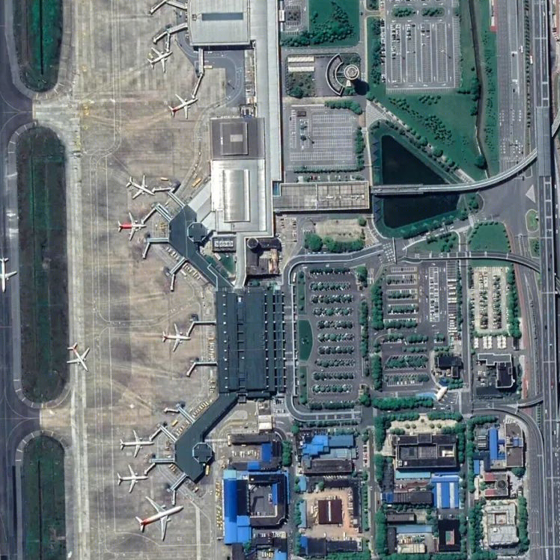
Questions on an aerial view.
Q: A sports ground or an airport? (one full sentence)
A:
The picture captures an airport.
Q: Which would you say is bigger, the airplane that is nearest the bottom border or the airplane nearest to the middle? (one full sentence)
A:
The airplane that is nearest the bottom border covers a greater area than the airplane nearest to the middle.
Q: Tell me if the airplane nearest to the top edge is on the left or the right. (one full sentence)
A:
The airplane nearest to the top edge appears in the left half of the scene.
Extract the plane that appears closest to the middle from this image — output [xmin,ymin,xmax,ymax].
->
[162,324,190,351]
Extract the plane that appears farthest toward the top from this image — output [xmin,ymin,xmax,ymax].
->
[147,47,172,69]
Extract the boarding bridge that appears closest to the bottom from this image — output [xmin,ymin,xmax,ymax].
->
[170,476,187,507]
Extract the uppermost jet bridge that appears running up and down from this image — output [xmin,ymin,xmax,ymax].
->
[190,47,203,99]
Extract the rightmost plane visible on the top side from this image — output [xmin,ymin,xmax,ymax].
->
[169,95,197,116]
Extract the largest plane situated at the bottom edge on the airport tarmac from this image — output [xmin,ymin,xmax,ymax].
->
[134,498,184,542]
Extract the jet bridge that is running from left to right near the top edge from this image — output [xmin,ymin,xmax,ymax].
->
[149,0,188,14]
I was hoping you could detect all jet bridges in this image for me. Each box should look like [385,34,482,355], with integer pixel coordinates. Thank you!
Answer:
[170,476,187,507]
[148,424,176,443]
[185,362,216,377]
[140,203,172,225]
[185,322,216,338]
[149,0,188,14]
[190,47,203,99]
[142,237,167,260]
[163,405,195,423]
[170,259,186,293]
[142,459,174,476]
[151,24,188,52]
